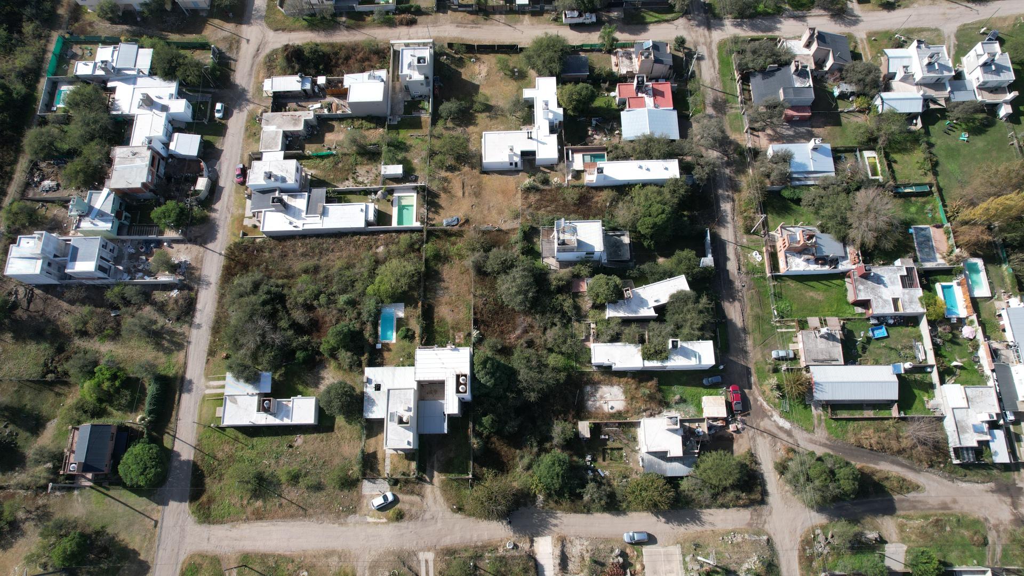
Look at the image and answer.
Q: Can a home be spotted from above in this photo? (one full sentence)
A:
Yes, this view includes a home.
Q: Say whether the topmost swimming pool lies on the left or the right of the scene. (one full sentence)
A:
It is on the left.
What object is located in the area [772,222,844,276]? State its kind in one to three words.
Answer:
house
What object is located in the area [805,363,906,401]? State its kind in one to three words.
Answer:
barn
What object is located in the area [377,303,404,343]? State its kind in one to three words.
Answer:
swimming pool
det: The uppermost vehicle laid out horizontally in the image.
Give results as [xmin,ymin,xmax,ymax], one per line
[563,14,596,28]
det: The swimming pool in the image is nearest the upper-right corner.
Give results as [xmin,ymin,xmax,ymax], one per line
[862,151,883,182]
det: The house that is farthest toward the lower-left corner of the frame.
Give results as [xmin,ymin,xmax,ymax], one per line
[64,425,136,474]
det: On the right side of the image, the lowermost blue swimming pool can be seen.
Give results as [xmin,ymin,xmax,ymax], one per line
[868,325,887,338]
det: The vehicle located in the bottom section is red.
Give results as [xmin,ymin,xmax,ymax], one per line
[727,384,744,413]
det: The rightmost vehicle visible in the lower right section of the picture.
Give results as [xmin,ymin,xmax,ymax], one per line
[1001,411,1018,428]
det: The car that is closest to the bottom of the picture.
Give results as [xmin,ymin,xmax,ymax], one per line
[623,530,649,544]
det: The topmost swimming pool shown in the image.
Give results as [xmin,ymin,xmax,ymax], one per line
[53,83,85,108]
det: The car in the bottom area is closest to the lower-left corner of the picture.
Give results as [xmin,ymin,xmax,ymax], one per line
[369,491,395,511]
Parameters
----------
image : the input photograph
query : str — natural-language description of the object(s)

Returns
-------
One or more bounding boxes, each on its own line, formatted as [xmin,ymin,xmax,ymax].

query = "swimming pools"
[53,83,85,108]
[574,152,607,170]
[862,151,883,182]
[935,278,971,318]
[392,189,417,226]
[911,225,947,262]
[964,258,991,297]
[377,303,404,343]
[868,325,887,338]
